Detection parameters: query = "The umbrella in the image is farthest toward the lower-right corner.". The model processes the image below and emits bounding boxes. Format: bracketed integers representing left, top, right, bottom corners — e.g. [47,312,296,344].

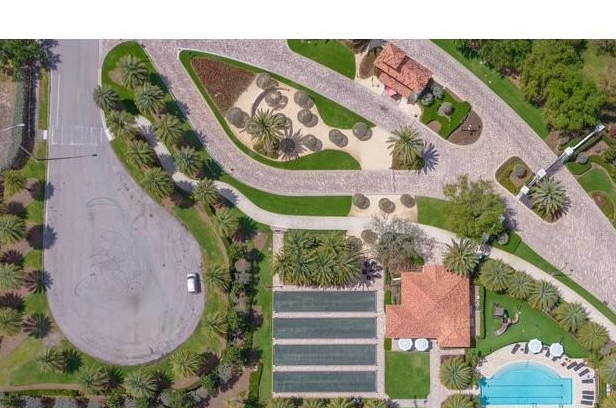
[550,343,563,357]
